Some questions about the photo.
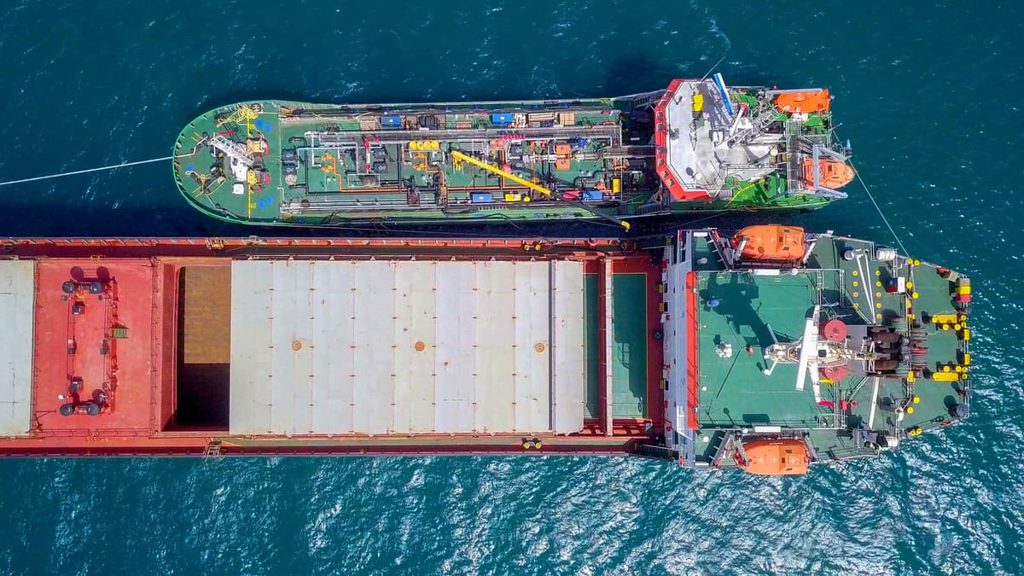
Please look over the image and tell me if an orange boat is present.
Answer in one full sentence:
Yes, the photo shows an orange boat.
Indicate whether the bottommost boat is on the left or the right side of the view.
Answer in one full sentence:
It is on the right.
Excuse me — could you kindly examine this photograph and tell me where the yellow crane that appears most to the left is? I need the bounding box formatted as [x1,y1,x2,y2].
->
[450,148,632,233]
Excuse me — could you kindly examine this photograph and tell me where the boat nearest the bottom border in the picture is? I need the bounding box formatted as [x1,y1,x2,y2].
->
[737,438,814,472]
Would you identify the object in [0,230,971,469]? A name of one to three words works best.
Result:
ship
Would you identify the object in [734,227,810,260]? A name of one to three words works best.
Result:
boat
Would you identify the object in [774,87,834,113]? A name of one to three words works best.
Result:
boat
